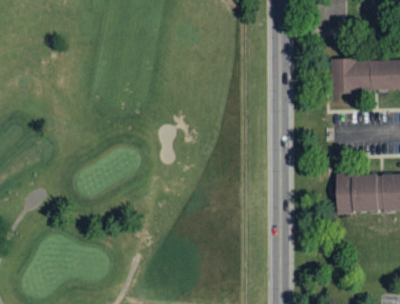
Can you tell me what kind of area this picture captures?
golf course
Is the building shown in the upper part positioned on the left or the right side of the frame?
right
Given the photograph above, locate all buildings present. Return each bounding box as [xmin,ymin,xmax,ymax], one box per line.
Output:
[336,174,400,215]
[331,60,400,95]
